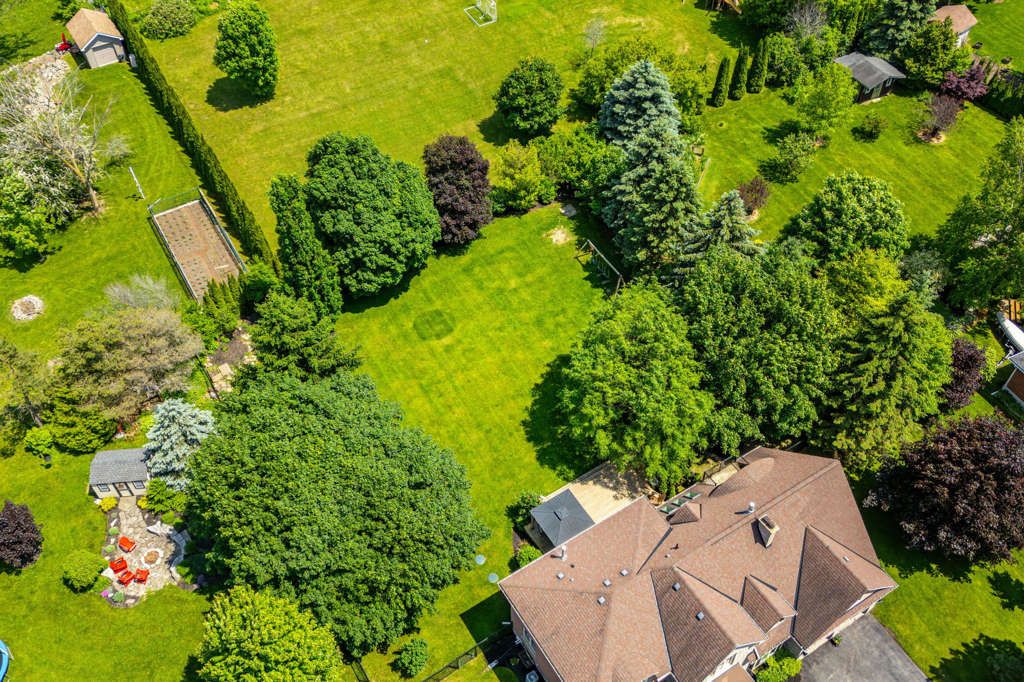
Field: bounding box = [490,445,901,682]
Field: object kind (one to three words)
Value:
house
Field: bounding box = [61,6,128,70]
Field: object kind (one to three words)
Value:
building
